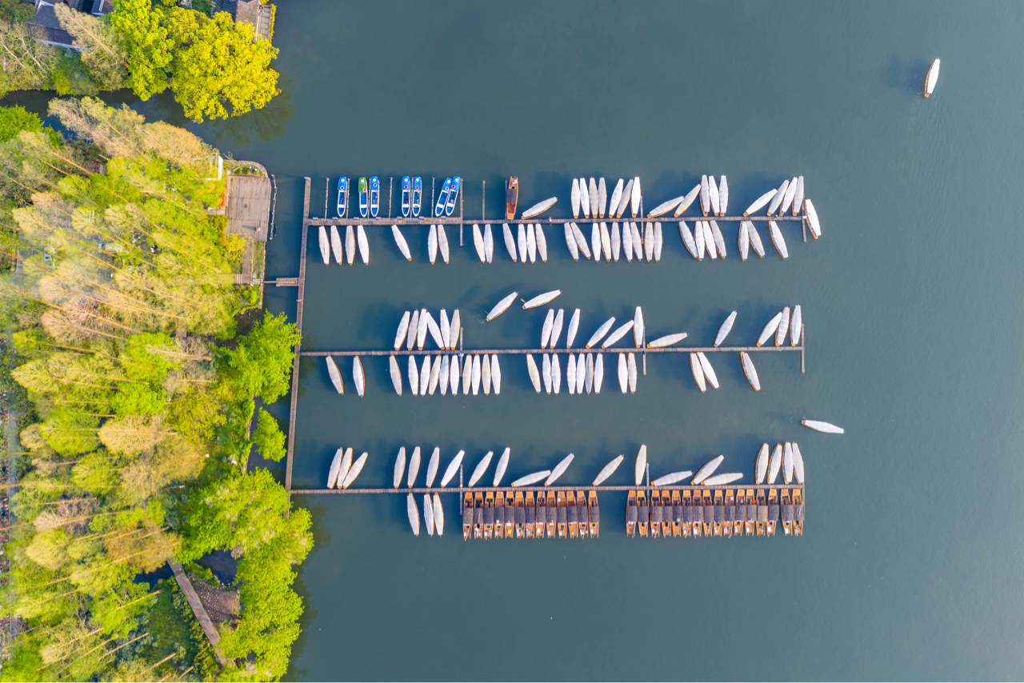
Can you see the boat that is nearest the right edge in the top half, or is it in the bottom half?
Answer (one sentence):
The boat that is nearest the right edge is in the top half of the image.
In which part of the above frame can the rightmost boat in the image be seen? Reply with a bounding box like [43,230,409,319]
[915,56,940,100]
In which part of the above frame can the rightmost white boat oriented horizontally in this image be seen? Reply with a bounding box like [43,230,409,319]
[798,412,845,433]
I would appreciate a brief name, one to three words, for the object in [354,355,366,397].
boat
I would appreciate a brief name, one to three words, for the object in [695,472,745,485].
boat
